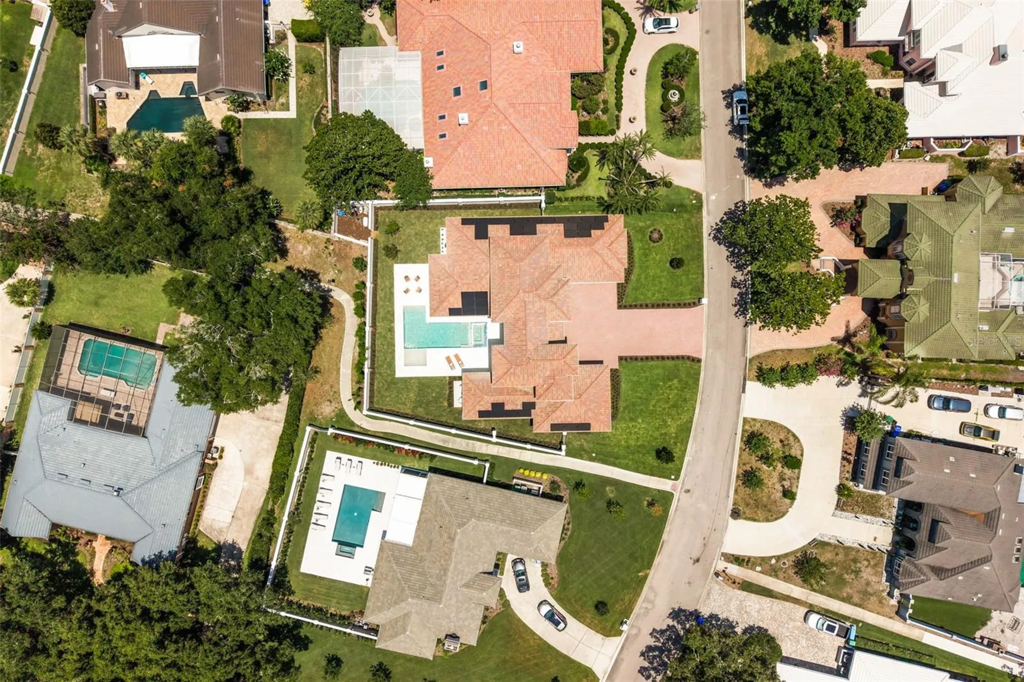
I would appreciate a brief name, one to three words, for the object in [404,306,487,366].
swimming pool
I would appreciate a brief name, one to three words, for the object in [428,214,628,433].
house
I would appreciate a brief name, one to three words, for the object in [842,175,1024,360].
house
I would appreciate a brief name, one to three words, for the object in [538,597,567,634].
car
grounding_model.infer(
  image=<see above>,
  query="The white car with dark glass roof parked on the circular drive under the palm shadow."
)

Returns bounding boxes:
[643,14,679,34]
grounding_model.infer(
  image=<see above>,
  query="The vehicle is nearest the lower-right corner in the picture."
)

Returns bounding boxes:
[805,610,851,639]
